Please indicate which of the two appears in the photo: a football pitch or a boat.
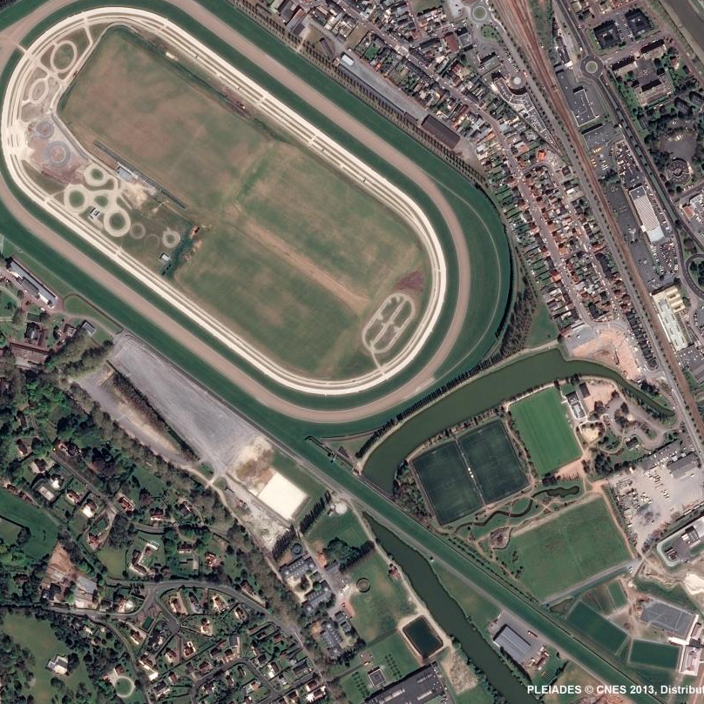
football pitch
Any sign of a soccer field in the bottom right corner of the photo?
Yes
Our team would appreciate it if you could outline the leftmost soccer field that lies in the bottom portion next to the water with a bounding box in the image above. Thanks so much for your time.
[412,442,484,524]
